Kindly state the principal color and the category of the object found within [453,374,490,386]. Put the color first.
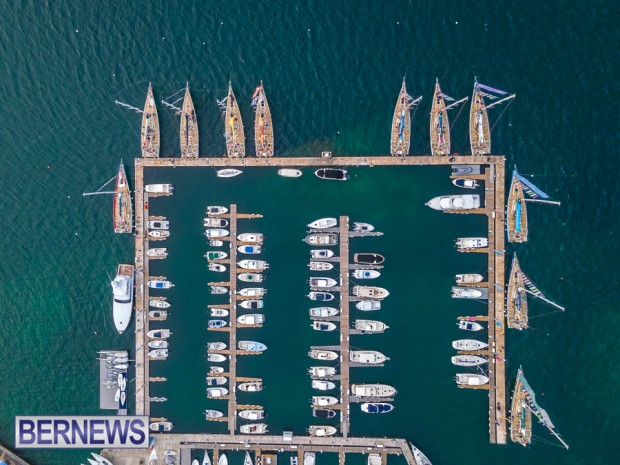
white boat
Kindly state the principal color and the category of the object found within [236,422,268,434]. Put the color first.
white boat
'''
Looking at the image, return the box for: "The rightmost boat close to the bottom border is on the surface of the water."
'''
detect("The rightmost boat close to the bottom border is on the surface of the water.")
[504,366,564,444]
